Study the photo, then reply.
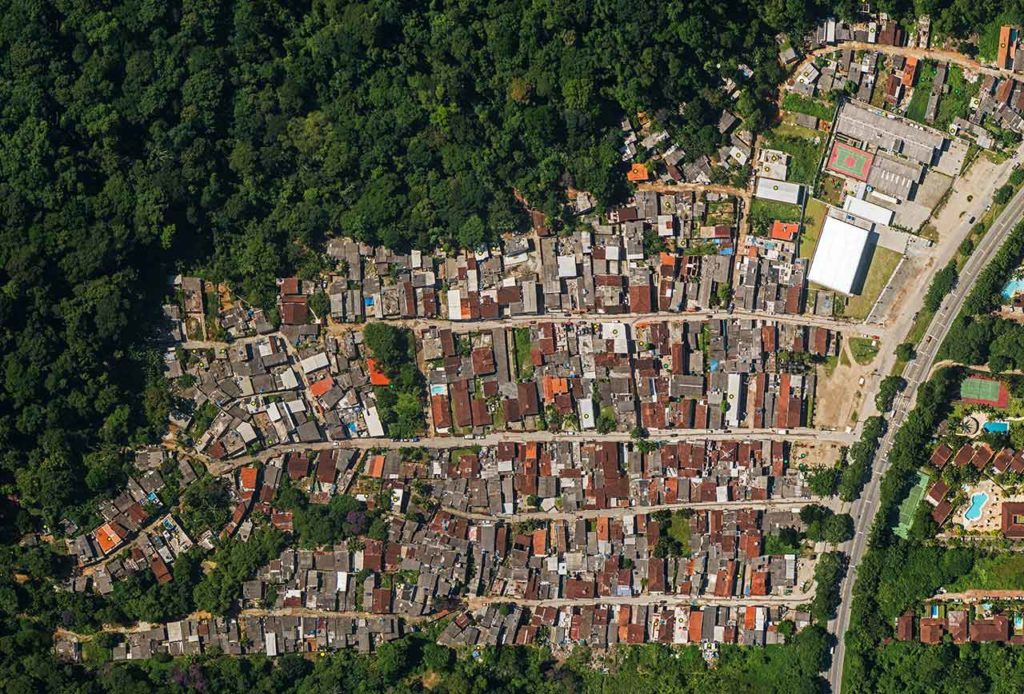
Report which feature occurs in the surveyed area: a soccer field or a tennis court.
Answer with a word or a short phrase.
tennis court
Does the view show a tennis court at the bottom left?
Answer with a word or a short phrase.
No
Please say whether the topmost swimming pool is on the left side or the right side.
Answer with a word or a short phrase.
right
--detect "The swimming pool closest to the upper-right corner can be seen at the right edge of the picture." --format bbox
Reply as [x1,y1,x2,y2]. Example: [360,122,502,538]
[1001,279,1024,299]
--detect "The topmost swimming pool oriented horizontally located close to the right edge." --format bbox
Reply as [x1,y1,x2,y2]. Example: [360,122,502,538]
[982,421,1011,434]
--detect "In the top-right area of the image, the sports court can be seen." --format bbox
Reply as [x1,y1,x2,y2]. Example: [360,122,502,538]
[828,141,871,179]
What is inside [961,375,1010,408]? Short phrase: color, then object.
green tennis court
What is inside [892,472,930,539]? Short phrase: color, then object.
green tennis court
